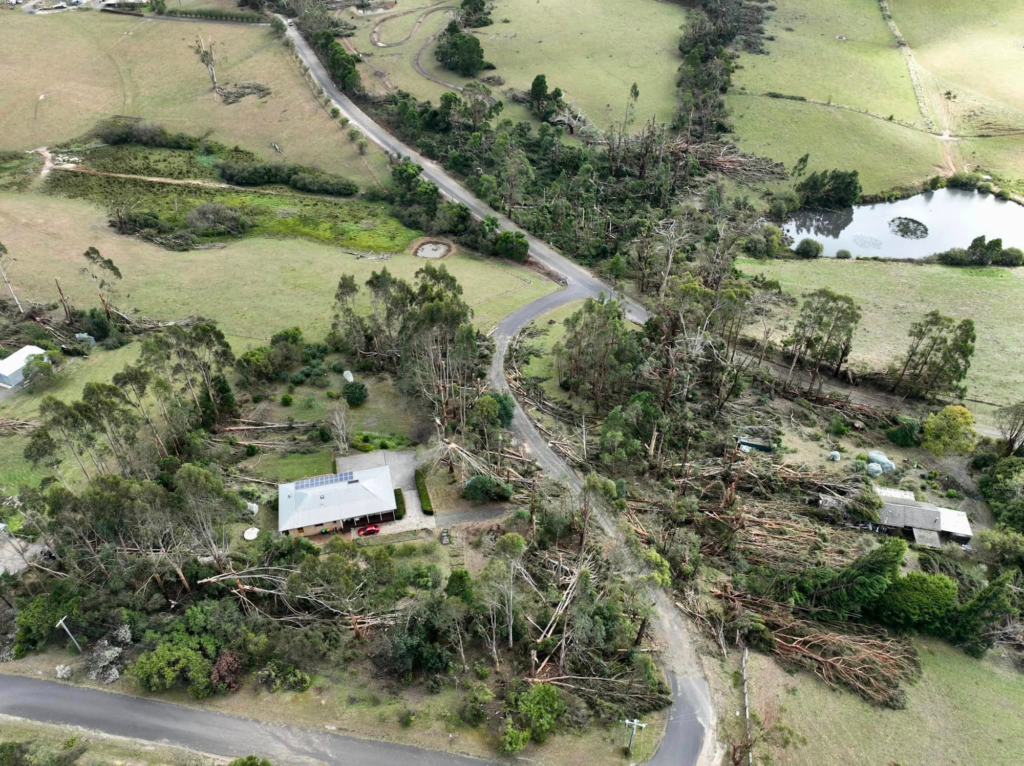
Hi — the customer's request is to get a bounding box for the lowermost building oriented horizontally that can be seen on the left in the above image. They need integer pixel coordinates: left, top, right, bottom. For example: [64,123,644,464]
[278,465,397,538]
